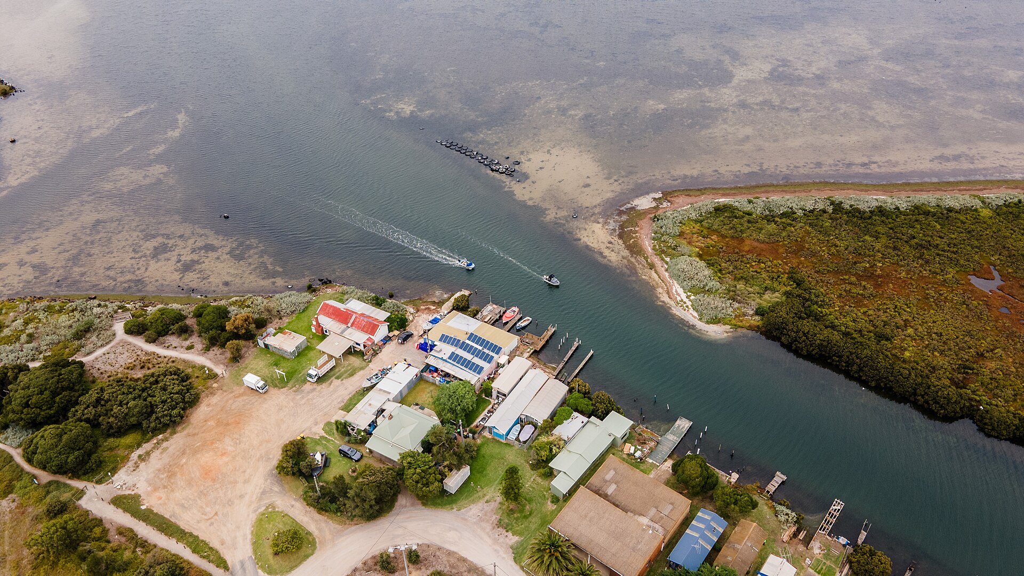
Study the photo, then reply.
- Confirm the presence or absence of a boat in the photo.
Yes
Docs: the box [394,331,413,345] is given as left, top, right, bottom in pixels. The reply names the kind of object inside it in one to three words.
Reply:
car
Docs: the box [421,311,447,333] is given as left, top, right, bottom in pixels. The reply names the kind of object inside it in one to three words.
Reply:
boat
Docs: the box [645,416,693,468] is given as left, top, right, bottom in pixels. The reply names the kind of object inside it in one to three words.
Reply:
pier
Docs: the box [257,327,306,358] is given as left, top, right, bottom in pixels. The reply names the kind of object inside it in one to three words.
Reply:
shed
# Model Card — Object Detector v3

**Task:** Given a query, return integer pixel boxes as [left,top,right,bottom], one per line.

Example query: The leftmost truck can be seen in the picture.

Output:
[239,370,268,394]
